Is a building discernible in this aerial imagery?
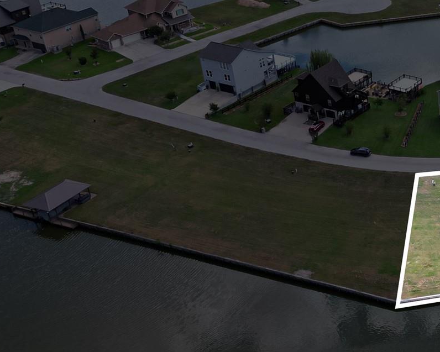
Yes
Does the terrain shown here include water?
Yes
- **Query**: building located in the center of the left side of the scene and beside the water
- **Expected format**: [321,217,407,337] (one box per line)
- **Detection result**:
[4,177,101,238]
